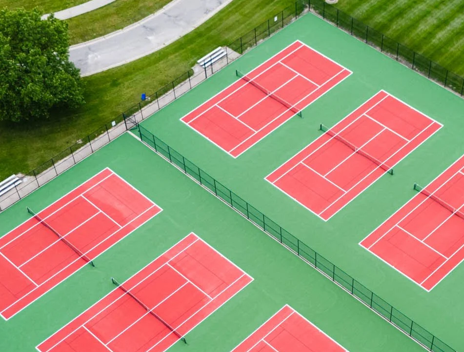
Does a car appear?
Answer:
No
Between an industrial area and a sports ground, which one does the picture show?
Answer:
sports ground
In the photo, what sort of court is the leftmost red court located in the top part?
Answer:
tennis court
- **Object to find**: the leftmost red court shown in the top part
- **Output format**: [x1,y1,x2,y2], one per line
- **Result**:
[179,40,353,158]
